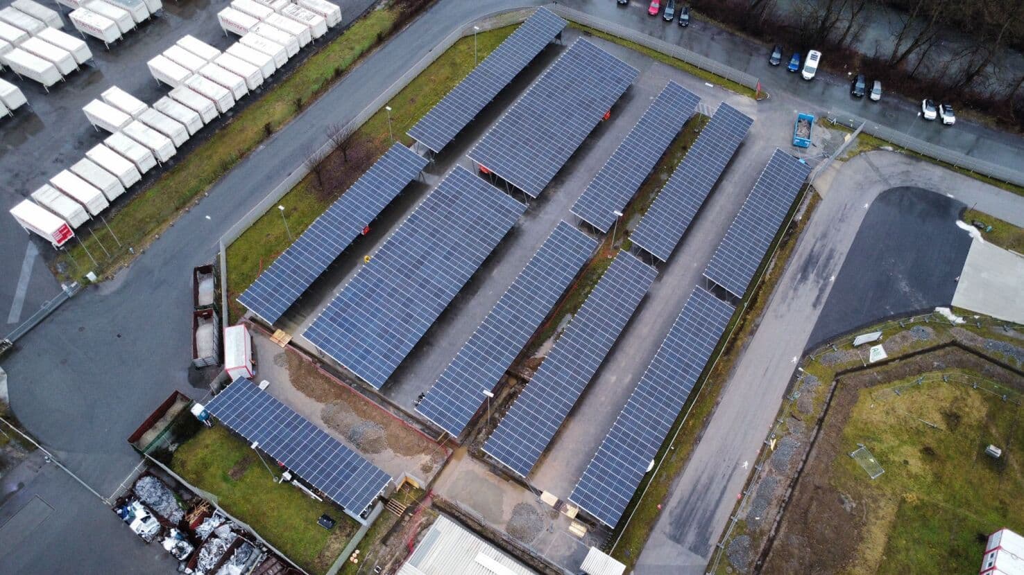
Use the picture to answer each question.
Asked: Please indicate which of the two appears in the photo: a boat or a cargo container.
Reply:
cargo container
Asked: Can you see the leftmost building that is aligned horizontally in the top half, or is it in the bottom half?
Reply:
bottom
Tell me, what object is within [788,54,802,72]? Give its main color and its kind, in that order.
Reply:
blue car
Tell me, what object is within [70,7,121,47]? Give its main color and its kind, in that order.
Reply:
white shipping container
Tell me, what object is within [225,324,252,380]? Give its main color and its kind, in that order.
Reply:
white shipping container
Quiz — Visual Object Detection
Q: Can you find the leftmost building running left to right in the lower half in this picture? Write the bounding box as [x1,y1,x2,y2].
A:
[399,515,533,575]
